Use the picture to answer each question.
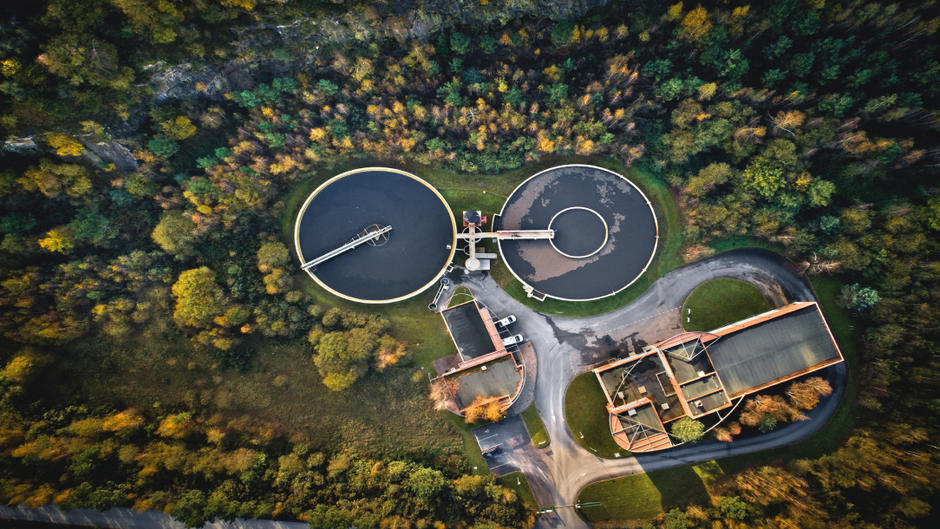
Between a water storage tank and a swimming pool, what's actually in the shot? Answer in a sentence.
I can see a water storage tank in this picture.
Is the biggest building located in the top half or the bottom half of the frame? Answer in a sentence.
The biggest building sits in the bottom half of the picture.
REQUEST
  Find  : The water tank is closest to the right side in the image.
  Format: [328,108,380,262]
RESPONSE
[491,164,660,301]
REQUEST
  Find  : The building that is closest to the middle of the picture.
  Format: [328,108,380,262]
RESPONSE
[429,298,526,418]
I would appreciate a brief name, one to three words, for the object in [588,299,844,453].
building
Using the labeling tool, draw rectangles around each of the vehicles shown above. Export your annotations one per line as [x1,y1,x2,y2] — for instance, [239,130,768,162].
[494,316,516,328]
[502,336,524,347]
